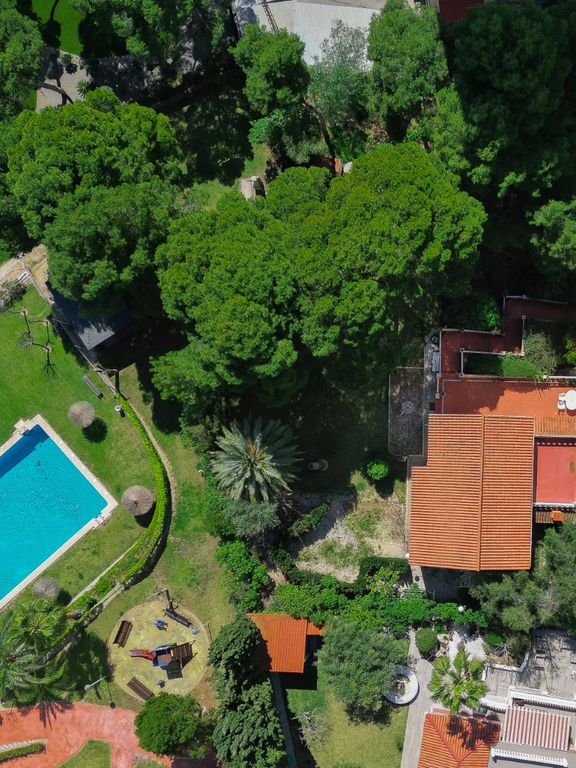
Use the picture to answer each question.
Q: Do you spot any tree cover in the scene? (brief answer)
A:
Yes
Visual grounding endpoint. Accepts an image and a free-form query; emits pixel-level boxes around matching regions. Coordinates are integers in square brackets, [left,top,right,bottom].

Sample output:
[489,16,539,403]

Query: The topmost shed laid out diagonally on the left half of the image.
[47,287,131,350]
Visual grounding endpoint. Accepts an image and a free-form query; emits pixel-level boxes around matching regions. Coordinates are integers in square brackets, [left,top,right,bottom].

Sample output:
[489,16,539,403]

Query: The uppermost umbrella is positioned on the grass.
[68,399,98,428]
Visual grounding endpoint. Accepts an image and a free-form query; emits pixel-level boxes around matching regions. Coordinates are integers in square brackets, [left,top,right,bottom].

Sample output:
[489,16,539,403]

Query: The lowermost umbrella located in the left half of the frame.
[33,574,62,602]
